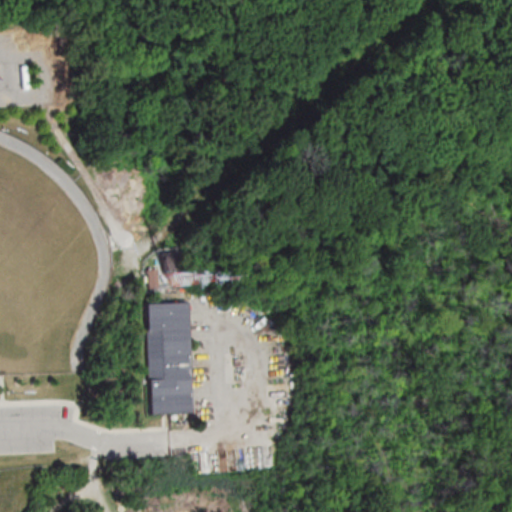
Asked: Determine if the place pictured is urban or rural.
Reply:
rural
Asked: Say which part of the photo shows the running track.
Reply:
left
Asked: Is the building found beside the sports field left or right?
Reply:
left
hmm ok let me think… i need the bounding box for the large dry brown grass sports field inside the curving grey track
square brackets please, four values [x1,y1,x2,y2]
[0,146,96,372]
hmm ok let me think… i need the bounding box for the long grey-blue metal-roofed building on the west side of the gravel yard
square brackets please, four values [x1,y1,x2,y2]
[148,304,192,414]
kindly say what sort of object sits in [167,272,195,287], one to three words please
shed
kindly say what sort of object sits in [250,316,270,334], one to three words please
vehicle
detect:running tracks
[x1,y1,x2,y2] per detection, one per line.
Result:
[0,132,108,372]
